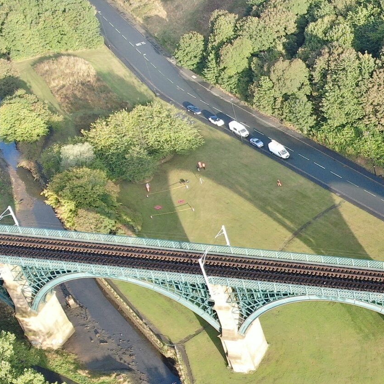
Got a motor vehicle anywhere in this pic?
Yes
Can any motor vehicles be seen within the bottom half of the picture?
No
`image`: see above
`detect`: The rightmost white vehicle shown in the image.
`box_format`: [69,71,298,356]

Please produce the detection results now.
[267,138,288,155]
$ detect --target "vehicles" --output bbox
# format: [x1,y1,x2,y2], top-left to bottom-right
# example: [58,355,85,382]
[267,138,288,155]
[229,118,248,134]
[208,114,224,125]
[186,103,201,113]
[248,136,264,146]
